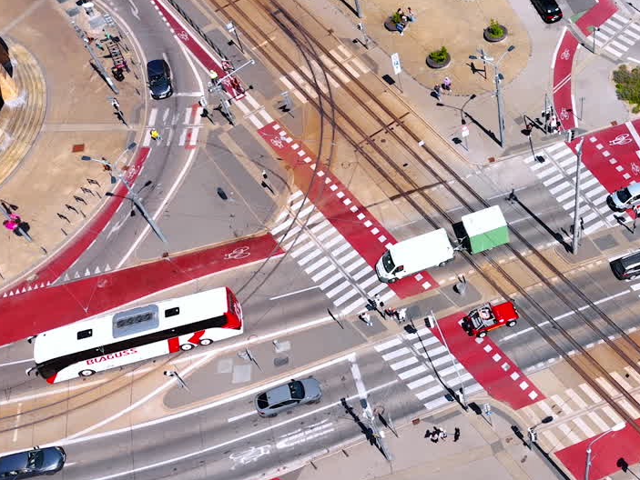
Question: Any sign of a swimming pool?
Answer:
No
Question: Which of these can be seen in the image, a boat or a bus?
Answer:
bus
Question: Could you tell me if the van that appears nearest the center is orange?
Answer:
No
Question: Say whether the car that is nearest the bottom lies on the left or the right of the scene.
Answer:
left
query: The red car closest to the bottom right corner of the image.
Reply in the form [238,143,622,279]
[466,299,522,337]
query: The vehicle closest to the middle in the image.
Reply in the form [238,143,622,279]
[369,223,457,282]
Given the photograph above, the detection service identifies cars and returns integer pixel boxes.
[466,299,522,337]
[0,442,67,480]
[254,376,322,419]
[612,248,640,281]
[533,0,563,23]
[146,61,173,100]
[607,179,640,212]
